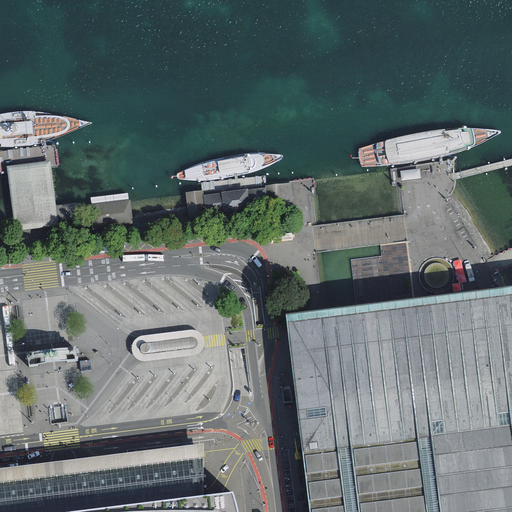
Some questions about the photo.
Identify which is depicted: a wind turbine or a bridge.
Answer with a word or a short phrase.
bridge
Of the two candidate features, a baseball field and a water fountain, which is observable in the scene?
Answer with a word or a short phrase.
water fountain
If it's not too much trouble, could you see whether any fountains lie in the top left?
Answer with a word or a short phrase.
No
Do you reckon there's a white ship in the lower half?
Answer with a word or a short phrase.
No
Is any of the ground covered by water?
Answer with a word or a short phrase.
Yes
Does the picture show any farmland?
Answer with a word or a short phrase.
No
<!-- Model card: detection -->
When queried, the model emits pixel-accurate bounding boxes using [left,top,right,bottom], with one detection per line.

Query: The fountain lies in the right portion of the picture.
[420,257,454,291]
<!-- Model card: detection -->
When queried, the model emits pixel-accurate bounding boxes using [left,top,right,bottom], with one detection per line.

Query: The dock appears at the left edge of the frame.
[0,145,57,168]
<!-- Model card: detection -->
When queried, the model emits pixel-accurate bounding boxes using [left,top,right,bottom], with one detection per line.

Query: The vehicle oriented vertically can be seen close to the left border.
[0,305,15,371]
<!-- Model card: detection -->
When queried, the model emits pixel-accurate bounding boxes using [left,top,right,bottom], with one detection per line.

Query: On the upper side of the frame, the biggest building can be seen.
[6,161,58,230]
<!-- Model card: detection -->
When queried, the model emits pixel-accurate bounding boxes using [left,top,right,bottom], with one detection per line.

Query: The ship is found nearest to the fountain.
[350,125,501,168]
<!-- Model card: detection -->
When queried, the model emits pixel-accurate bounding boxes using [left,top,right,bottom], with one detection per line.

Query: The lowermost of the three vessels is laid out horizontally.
[170,152,283,182]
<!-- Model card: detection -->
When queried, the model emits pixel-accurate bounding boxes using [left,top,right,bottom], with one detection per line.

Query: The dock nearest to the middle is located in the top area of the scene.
[202,176,263,191]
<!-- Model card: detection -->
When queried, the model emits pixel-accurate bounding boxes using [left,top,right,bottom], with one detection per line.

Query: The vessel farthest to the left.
[0,110,94,149]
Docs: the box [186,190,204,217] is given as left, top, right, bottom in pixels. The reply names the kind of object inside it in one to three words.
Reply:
building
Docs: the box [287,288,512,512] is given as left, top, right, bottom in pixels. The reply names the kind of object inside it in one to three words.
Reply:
building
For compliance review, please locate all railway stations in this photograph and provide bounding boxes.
[0,443,204,512]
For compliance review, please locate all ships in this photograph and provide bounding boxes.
[350,125,501,168]
[0,110,94,149]
[170,152,283,182]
